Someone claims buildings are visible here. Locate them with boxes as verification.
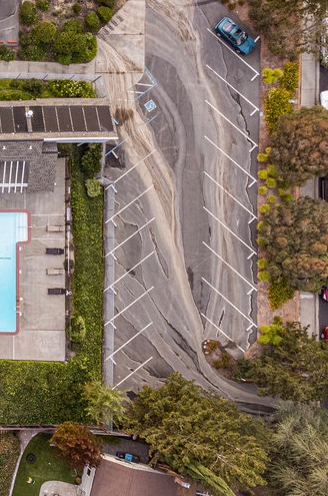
[82,455,192,496]
[0,98,118,193]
